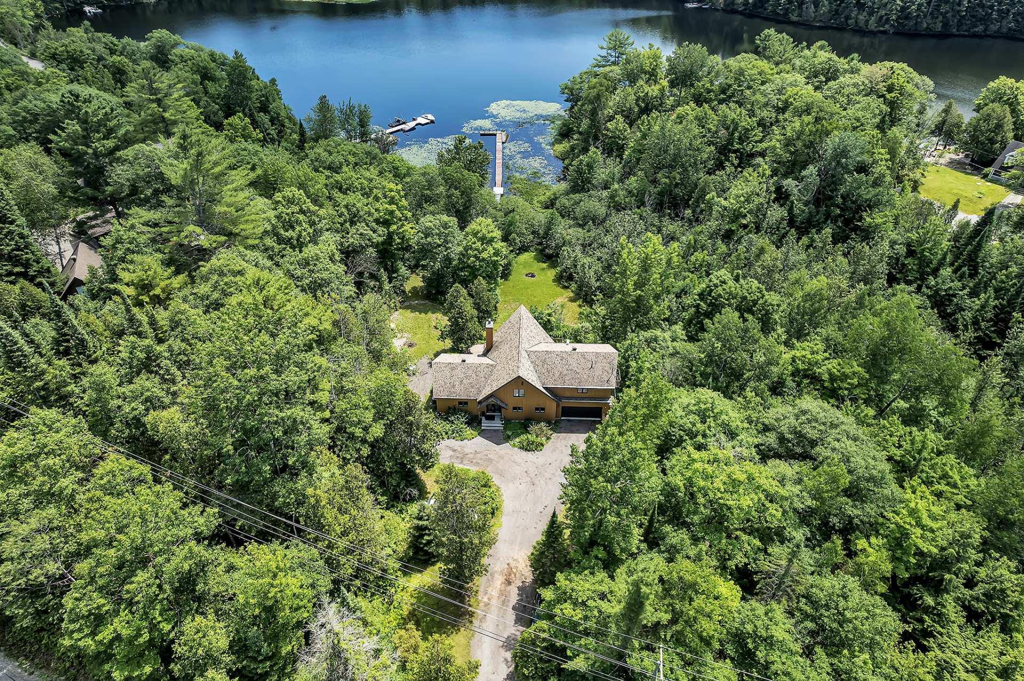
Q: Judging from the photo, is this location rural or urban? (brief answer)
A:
rural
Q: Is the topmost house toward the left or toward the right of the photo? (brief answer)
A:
right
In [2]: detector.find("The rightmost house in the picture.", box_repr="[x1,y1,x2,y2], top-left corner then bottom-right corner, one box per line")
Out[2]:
[984,139,1024,197]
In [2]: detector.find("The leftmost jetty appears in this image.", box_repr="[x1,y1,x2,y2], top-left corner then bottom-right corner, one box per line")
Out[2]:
[373,113,435,137]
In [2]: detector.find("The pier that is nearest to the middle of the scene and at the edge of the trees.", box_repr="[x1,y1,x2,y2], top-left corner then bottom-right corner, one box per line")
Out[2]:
[481,129,505,187]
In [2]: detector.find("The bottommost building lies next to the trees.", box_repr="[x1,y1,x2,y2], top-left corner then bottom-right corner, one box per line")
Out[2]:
[432,305,625,431]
